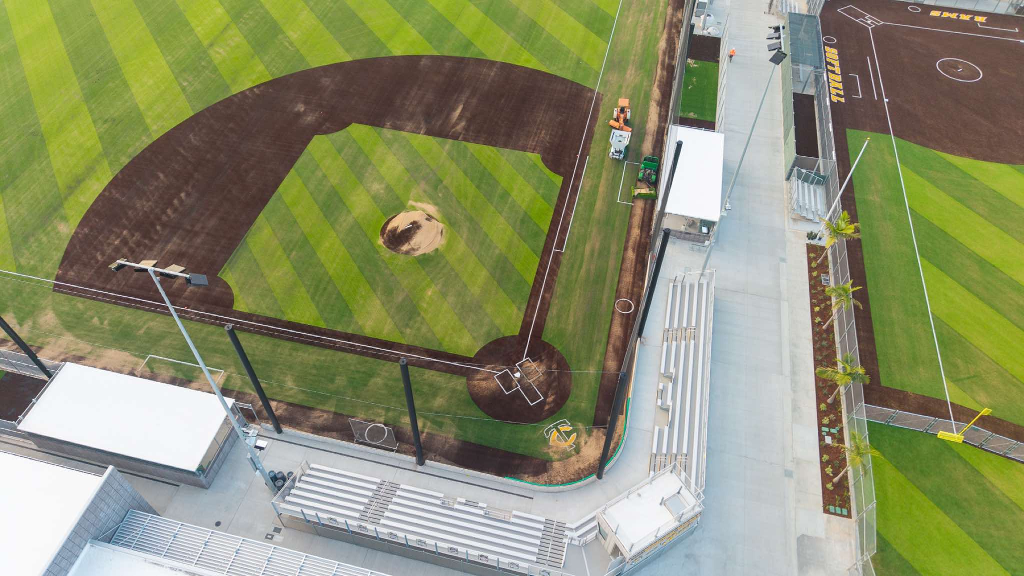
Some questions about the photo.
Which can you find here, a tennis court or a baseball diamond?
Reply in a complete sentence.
The one in the frame is a baseball diamond.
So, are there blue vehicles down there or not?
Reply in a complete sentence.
No, the scene contains no blue vehicle.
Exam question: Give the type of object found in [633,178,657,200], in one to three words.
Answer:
vehicle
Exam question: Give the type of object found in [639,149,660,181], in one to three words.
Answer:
vehicle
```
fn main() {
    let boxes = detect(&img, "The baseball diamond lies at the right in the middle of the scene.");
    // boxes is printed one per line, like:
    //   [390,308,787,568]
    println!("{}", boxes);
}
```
[809,0,1024,467]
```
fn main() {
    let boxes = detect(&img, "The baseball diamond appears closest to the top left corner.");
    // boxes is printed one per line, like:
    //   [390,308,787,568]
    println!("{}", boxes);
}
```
[0,0,685,483]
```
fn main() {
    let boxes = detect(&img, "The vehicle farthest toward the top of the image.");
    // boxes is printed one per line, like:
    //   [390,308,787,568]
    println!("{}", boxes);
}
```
[608,97,632,134]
